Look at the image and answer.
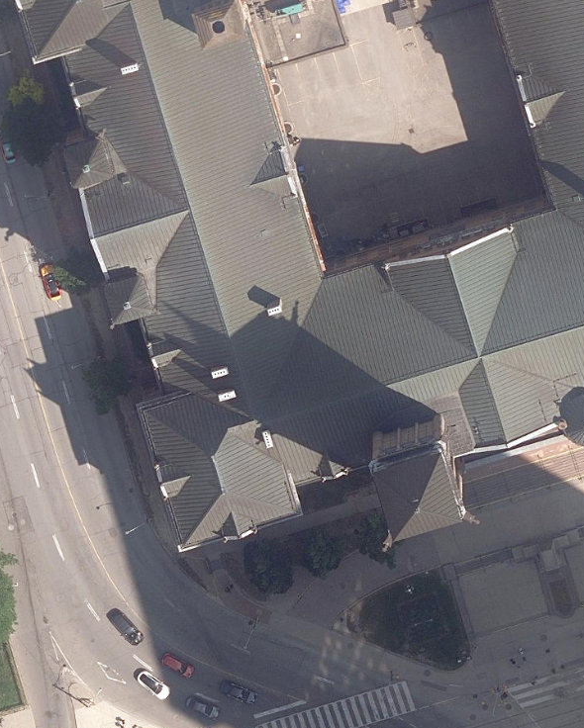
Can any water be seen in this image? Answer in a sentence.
No, the picture contains no water.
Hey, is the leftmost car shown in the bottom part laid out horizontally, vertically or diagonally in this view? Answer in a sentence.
What the image shows is the leftmost car shown in the bottom part lying diagonally.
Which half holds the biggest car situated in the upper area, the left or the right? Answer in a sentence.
It is on the left.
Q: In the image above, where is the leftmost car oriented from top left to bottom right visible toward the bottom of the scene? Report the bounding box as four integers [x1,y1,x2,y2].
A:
[107,609,142,646]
